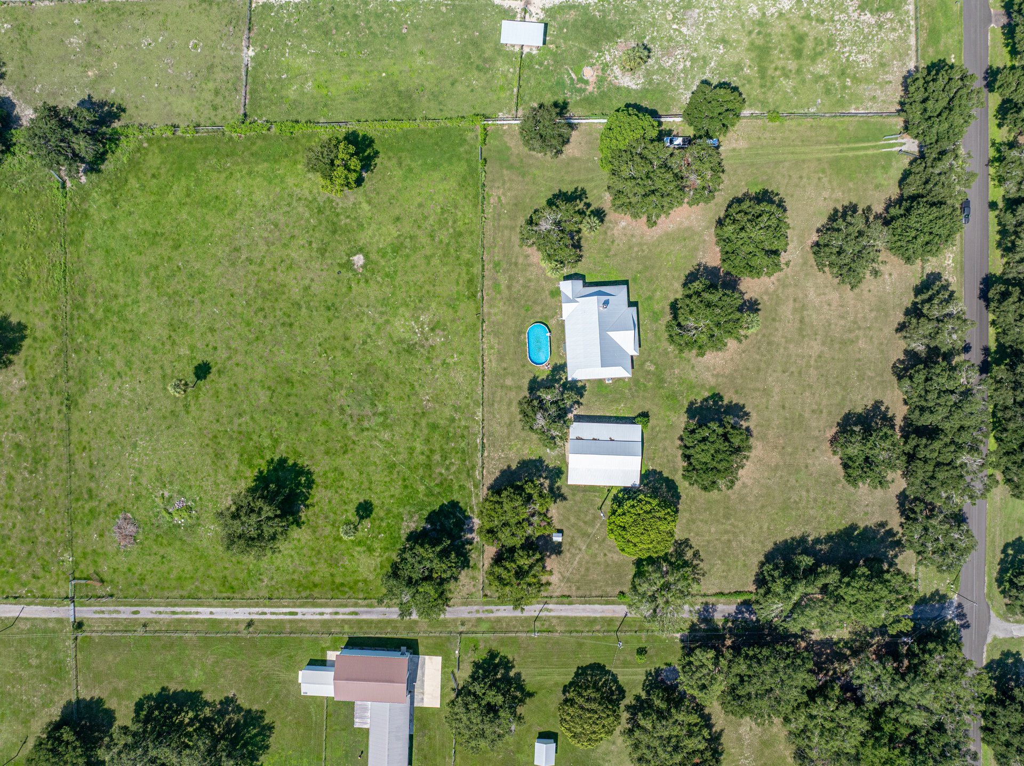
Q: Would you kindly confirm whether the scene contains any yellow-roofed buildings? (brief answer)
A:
No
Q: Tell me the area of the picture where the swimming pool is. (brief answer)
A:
center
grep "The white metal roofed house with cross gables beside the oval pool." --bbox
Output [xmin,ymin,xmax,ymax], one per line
[560,280,639,380]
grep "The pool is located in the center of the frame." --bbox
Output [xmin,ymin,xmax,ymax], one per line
[526,323,550,366]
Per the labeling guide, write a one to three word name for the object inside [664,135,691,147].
vehicle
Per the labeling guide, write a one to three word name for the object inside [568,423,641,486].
barn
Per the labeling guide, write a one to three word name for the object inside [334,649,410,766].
building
